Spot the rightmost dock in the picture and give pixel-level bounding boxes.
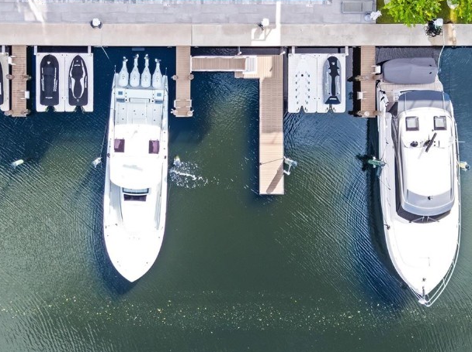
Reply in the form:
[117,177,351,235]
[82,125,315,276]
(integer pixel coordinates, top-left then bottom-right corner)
[350,47,397,117]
